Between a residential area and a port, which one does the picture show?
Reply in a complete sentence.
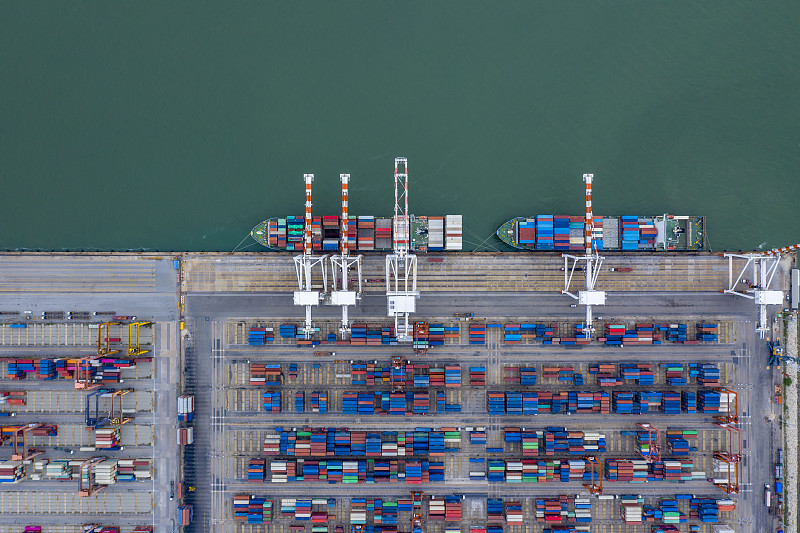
The picture captures a port.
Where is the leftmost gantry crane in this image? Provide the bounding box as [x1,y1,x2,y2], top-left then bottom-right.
[11,421,45,461]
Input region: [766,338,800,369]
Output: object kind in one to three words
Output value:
crane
